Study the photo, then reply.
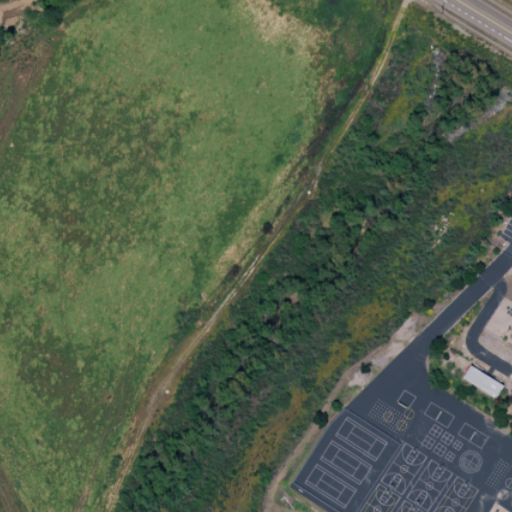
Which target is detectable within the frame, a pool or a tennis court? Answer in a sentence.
Of the two, only a tennis court appears.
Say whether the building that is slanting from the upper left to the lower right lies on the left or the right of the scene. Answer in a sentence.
It is on the right.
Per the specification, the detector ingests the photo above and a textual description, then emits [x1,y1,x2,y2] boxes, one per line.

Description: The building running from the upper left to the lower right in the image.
[464,366,504,398]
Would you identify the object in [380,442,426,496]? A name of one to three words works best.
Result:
basketball court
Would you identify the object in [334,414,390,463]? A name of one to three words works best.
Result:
tennis court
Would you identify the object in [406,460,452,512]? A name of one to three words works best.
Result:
basketball court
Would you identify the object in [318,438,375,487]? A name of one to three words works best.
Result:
tennis court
